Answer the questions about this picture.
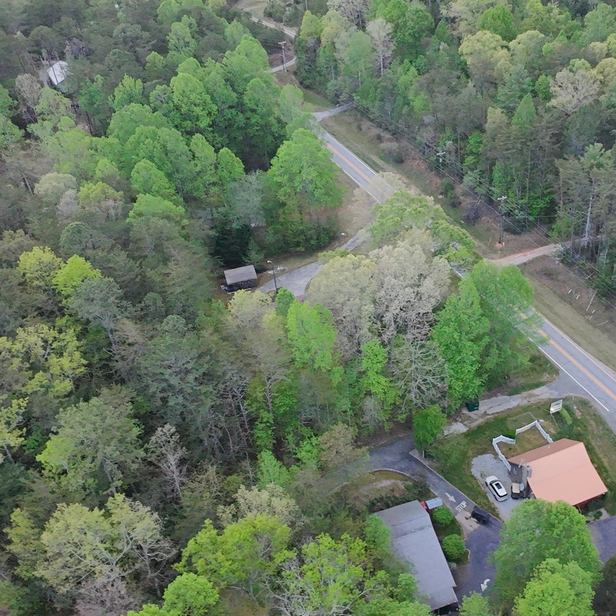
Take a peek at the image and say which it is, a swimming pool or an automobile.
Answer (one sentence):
There is an automobile in the scene.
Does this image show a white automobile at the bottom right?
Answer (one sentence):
Yes, a white automobile appears at the bottom right.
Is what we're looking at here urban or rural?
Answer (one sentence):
It looks rural.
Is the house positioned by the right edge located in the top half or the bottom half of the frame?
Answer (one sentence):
It is in the bottom half that the house positioned by the right edge appears.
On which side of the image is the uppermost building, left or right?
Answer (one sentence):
The uppermost building appears in the left half of the scene.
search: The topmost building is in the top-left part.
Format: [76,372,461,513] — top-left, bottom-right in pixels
[47,61,70,92]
